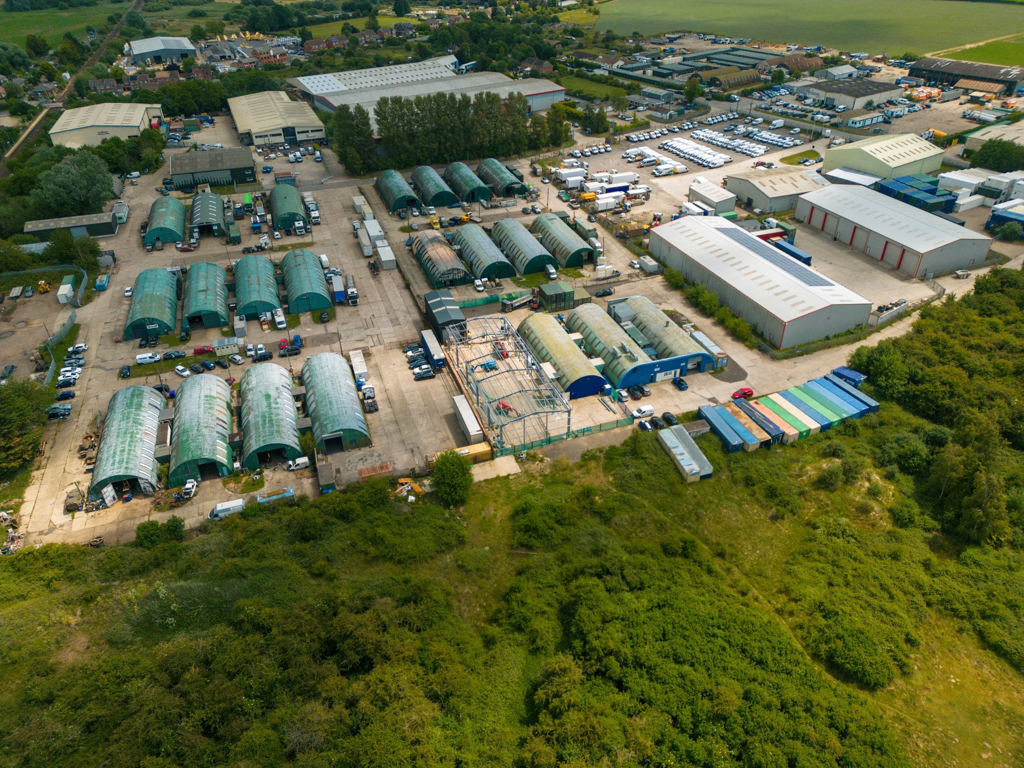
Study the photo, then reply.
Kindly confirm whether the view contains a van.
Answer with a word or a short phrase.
Yes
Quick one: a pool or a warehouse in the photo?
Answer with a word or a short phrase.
warehouse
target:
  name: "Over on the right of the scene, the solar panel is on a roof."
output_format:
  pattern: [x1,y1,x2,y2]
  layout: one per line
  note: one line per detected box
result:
[713,225,834,284]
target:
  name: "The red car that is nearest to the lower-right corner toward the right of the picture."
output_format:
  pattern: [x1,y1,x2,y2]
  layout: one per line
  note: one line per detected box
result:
[732,387,754,399]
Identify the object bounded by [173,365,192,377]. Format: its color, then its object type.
white vehicle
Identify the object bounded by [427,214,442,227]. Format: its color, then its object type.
yellow vehicle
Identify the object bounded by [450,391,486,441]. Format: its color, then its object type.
white trailer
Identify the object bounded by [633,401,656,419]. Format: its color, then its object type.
white vehicle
